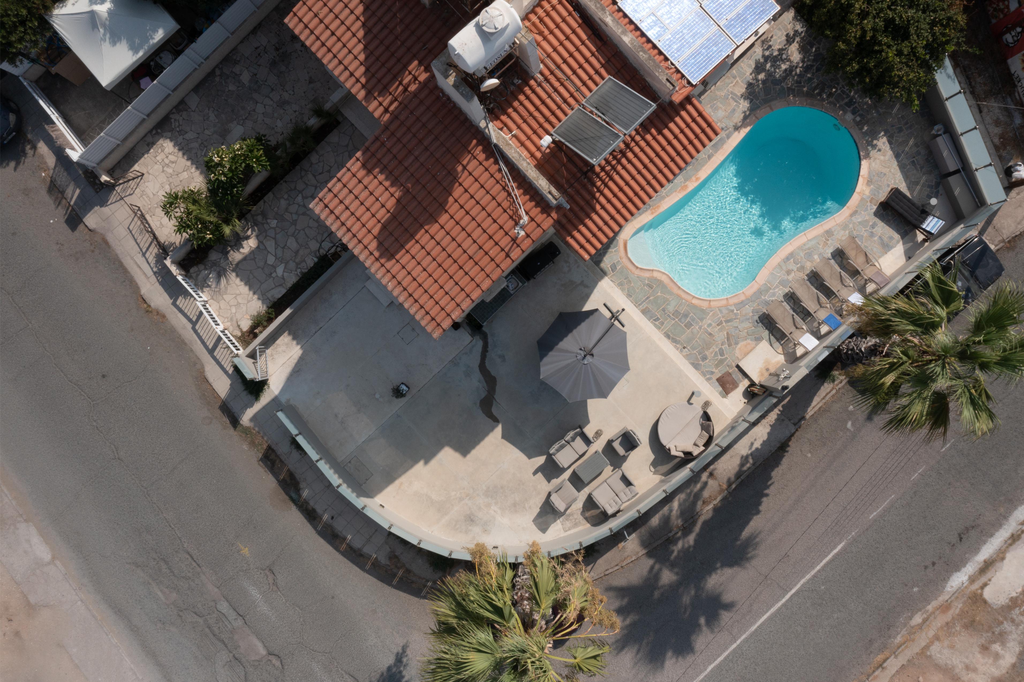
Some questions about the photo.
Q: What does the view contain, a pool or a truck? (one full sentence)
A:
This aerial view contains a pool.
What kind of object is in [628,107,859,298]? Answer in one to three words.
swimming pool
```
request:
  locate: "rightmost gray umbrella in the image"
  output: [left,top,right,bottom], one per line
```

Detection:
[537,304,633,402]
